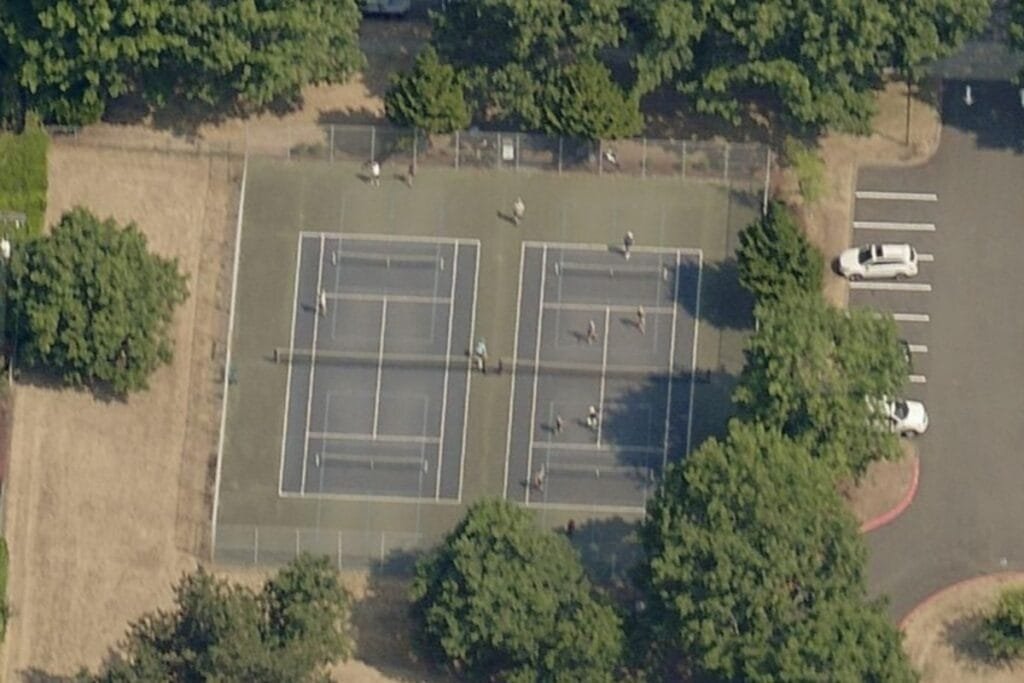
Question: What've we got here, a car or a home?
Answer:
car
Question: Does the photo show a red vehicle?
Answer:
No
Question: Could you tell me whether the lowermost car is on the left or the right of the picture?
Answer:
right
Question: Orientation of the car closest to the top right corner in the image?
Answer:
from left to right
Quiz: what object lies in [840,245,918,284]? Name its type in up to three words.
car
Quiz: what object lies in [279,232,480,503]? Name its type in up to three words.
tennis court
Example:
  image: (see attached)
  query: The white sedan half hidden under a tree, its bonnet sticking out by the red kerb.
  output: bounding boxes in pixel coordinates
[881,404,929,438]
